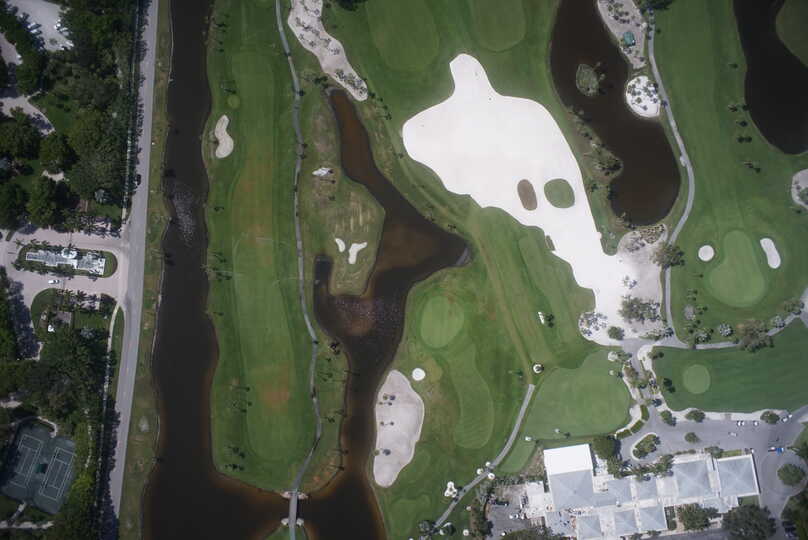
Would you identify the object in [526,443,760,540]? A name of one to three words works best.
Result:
building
